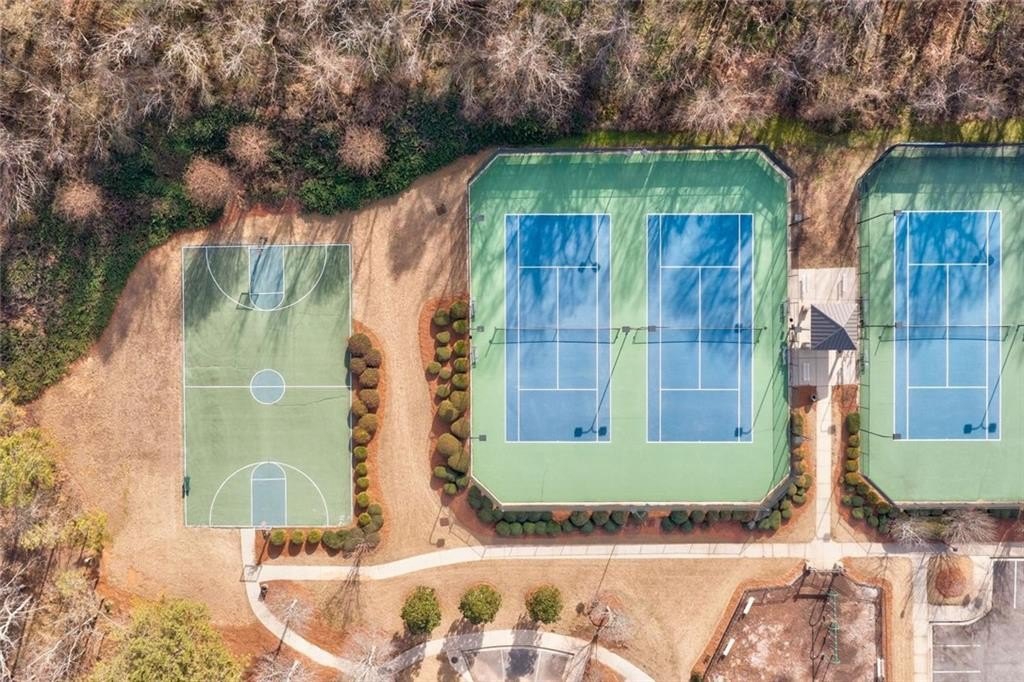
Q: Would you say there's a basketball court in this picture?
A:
Yes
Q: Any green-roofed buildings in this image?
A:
No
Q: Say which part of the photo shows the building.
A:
right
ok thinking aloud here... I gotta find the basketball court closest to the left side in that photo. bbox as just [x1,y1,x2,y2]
[182,244,353,527]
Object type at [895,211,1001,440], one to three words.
tennis court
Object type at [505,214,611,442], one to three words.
tennis court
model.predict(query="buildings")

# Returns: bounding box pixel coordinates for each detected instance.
[805,304,858,350]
